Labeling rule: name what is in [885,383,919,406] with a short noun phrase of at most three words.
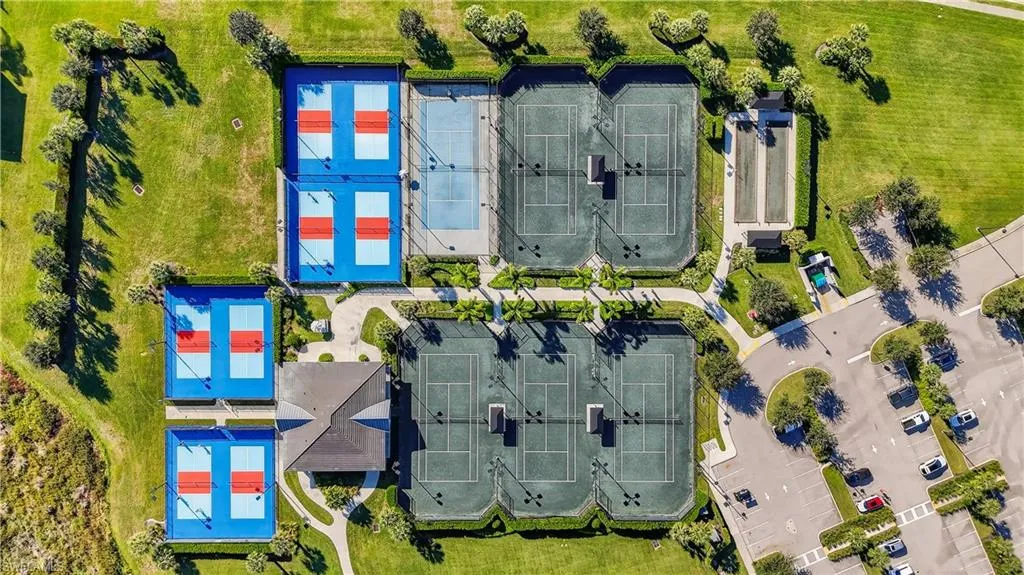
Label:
truck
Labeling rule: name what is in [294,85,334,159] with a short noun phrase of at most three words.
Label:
sports court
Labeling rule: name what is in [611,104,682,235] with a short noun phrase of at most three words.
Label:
tennis court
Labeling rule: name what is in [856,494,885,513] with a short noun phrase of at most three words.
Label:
car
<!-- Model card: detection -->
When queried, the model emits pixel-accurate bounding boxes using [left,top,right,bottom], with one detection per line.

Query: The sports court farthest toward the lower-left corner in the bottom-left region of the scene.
[173,445,214,520]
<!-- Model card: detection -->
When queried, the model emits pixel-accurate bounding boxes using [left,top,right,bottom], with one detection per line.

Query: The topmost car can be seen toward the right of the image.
[927,347,955,363]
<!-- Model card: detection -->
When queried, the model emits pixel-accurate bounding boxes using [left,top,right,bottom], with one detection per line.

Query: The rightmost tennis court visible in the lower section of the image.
[609,354,680,482]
